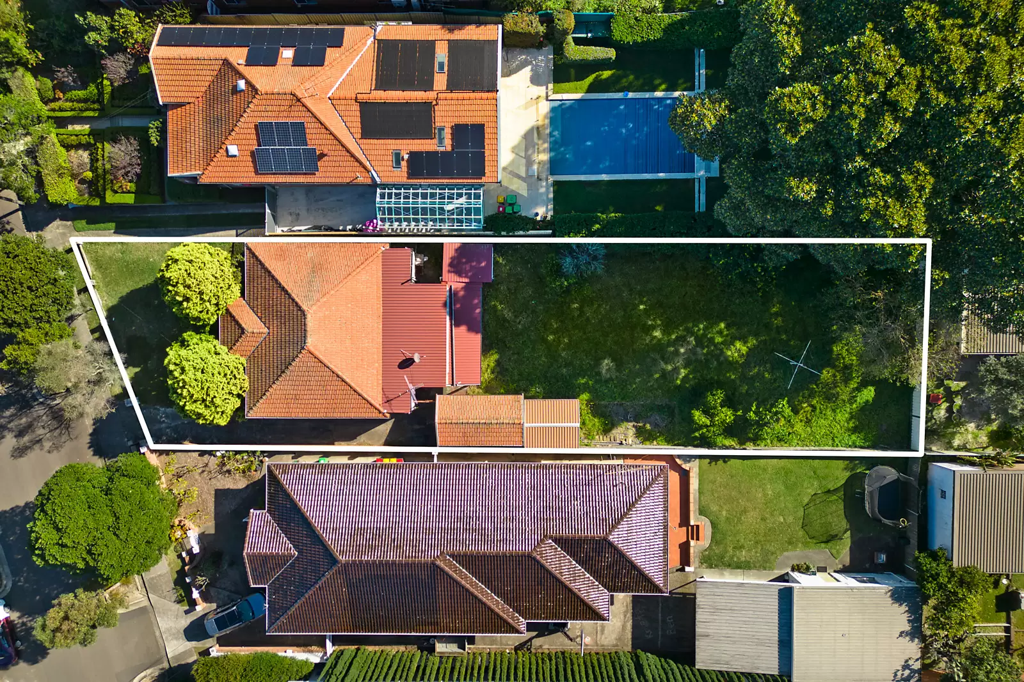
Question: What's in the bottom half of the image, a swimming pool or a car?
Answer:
car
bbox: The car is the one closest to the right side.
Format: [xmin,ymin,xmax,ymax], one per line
[197,592,265,643]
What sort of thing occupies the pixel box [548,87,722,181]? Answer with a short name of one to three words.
swimming pool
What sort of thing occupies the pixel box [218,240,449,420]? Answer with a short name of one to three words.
house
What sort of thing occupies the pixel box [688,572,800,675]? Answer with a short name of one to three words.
building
